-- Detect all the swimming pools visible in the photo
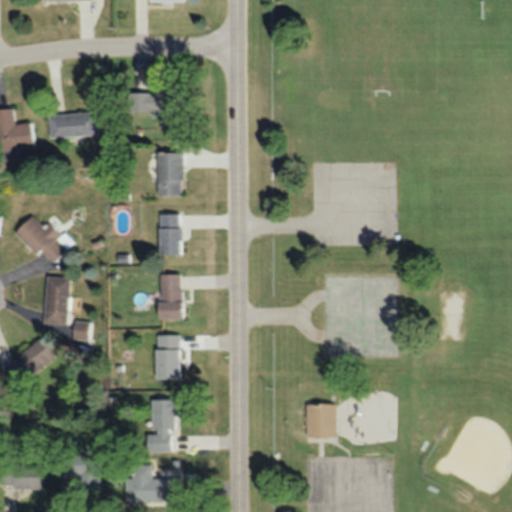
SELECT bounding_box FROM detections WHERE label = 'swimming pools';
[112,206,134,236]
[132,292,149,307]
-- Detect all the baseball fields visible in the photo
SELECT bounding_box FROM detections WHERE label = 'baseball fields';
[435,416,512,495]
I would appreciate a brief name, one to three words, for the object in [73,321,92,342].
building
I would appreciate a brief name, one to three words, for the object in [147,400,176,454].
house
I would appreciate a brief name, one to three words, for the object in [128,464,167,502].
house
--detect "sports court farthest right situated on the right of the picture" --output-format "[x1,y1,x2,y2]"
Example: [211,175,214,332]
[440,292,465,340]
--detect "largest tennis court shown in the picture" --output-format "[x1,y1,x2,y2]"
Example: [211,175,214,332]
[328,276,400,357]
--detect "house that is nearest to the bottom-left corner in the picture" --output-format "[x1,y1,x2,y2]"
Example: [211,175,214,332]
[2,476,44,490]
